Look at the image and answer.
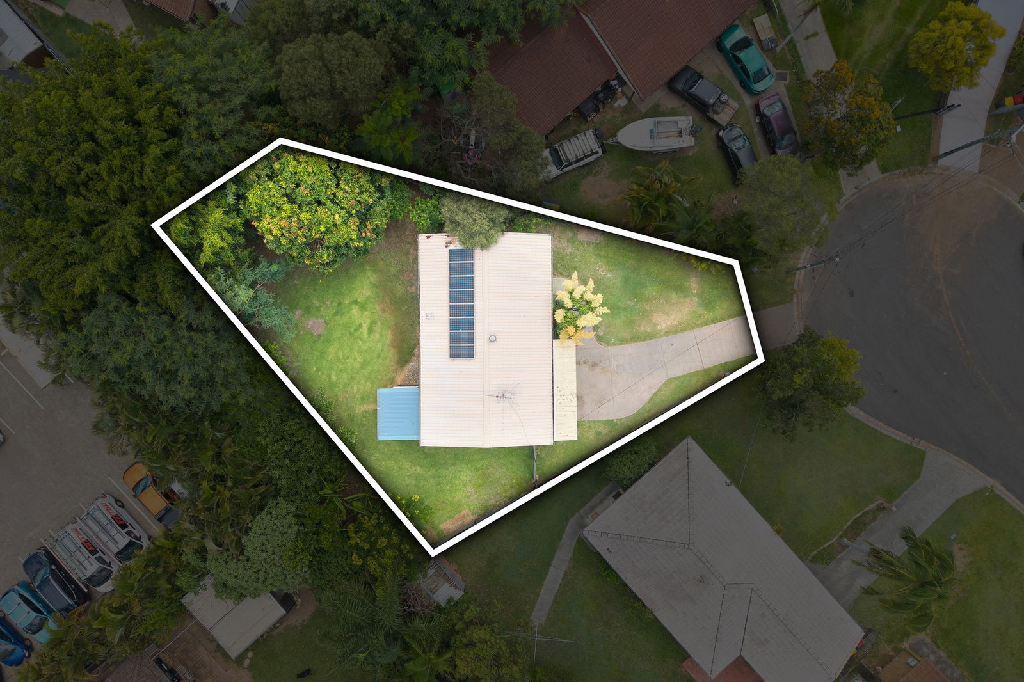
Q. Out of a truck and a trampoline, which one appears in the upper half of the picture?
truck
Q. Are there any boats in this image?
Yes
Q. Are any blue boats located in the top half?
No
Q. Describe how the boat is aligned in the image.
horizontally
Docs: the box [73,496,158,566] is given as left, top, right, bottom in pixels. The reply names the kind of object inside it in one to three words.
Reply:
van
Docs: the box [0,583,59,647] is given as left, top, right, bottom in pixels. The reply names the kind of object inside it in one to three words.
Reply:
car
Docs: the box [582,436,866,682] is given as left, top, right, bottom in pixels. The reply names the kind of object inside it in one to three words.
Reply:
house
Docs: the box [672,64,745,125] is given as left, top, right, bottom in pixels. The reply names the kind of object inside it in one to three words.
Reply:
truck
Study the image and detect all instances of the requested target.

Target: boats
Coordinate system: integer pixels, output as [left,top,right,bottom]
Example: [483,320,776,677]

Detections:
[617,111,711,146]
